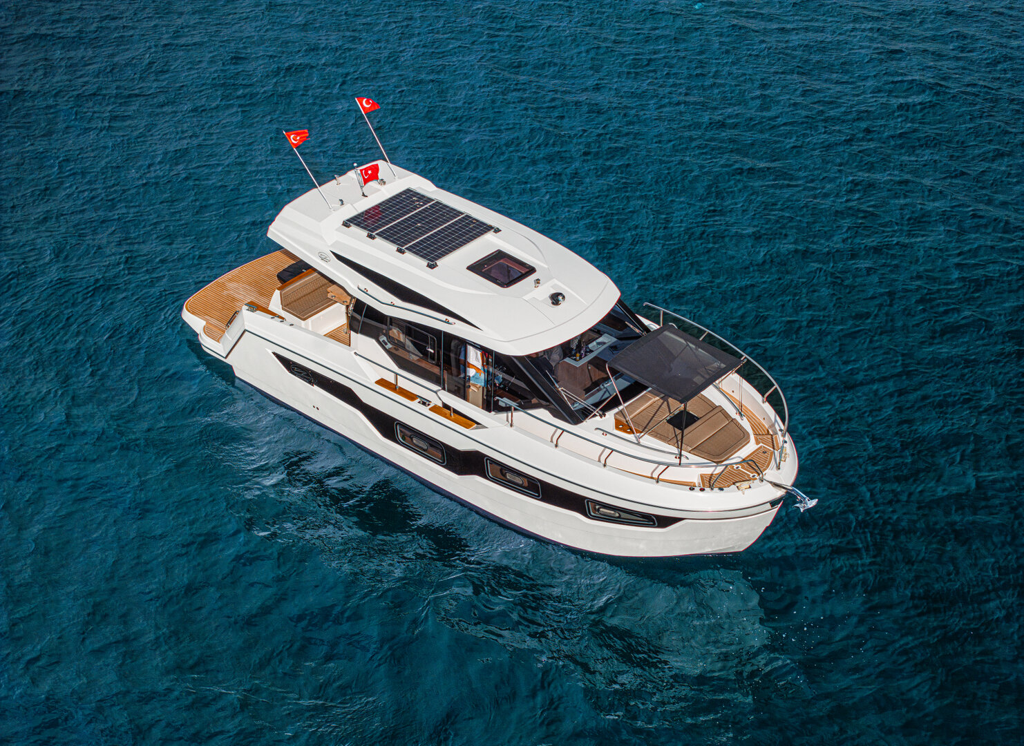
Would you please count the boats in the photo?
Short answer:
1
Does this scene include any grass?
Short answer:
No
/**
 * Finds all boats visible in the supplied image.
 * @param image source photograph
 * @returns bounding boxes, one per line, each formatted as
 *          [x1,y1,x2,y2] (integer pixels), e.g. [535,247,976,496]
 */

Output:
[184,160,818,561]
